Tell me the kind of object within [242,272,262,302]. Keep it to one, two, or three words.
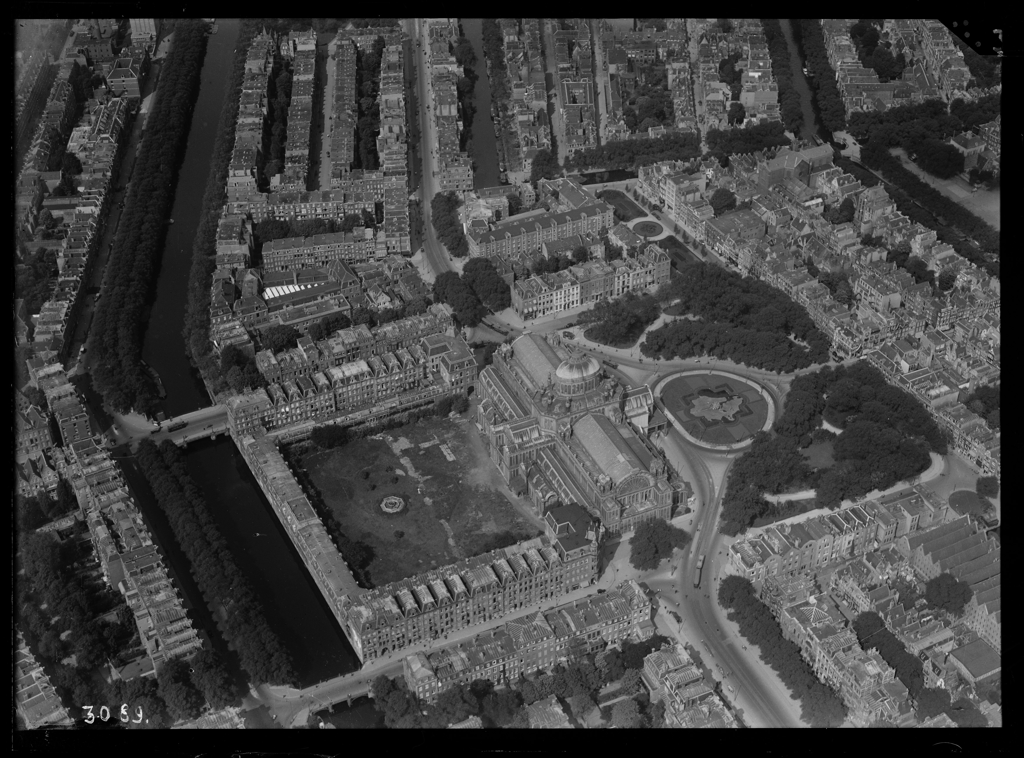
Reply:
building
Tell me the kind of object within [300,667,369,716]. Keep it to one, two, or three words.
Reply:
bridge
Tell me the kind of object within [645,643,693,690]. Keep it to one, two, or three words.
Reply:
house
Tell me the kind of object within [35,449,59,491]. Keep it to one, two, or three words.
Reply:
house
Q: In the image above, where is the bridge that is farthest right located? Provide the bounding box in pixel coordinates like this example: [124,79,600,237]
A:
[830,131,865,173]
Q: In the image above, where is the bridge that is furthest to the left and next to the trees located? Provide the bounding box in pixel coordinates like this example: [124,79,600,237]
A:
[157,403,230,446]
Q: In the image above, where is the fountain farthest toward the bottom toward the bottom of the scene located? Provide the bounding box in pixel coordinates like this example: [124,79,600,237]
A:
[380,495,404,513]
